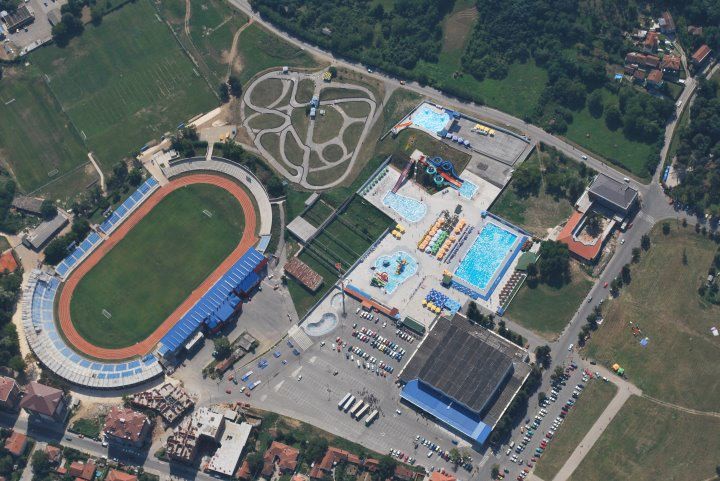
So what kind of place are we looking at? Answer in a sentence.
This looks like a sports ground.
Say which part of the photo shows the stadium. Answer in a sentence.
The stadium appears toward the left of the photo.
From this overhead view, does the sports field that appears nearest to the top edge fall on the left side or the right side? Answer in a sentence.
The sports field that appears nearest to the top edge appears in the left half of the scene.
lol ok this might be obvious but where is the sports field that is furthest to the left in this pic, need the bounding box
[0,84,79,194]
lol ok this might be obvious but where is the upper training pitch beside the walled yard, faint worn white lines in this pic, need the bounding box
[37,4,170,98]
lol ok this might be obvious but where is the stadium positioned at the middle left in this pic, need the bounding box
[24,155,273,391]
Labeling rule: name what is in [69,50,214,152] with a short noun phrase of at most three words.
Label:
sports field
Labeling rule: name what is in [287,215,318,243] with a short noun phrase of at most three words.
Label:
building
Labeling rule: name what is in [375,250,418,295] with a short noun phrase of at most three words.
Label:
swimming pool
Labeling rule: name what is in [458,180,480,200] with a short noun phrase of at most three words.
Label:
swimming pool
